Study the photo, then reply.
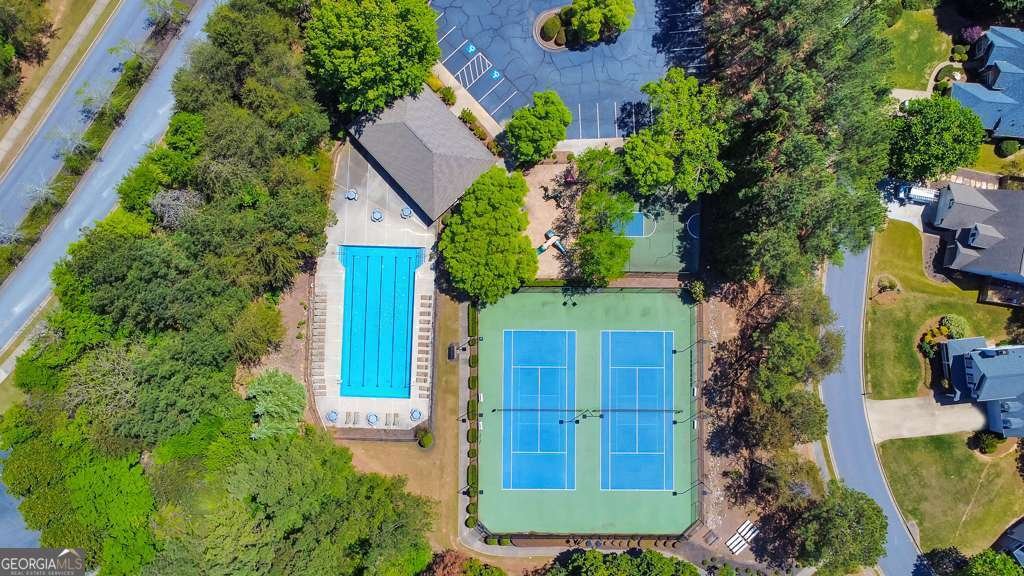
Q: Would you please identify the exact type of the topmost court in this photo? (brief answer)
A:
basketball court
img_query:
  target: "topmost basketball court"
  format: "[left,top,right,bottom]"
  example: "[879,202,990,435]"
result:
[612,190,701,272]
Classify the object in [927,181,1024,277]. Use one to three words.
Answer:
house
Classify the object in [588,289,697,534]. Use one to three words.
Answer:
tennis court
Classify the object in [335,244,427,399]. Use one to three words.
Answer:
swimming pool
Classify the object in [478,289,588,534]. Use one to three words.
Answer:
tennis court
